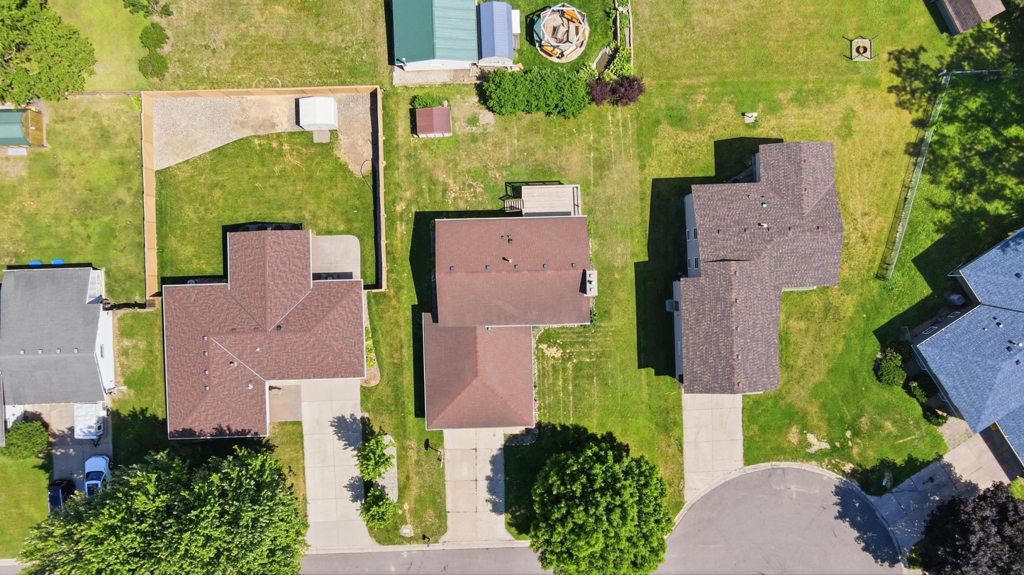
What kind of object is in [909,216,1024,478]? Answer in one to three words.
house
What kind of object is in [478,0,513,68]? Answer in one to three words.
shed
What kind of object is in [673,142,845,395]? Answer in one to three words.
house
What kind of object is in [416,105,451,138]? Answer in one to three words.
shed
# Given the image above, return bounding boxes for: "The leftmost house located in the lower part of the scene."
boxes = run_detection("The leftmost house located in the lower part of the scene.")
[0,267,117,446]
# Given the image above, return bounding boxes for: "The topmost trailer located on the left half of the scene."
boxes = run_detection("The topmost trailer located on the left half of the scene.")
[75,403,112,449]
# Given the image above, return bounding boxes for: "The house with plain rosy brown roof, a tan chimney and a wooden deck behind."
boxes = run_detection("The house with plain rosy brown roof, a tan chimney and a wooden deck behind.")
[423,184,598,430]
